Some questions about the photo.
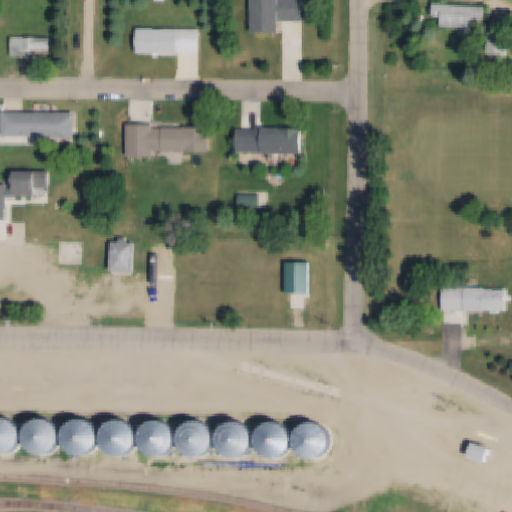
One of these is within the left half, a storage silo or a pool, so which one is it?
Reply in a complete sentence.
There is a storage silo within the left half.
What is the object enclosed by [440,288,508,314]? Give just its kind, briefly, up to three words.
house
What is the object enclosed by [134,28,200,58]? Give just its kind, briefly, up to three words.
house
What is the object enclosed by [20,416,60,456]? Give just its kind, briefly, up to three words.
silo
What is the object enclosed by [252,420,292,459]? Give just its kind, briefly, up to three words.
silo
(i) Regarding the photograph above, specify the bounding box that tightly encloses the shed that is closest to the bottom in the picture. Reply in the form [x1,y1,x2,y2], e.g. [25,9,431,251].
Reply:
[466,444,491,462]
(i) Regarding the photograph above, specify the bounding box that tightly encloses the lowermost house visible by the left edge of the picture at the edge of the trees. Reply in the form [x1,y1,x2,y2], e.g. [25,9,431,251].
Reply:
[0,171,48,220]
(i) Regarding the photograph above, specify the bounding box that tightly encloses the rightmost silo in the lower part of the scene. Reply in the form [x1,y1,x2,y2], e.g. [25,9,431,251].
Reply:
[290,420,331,460]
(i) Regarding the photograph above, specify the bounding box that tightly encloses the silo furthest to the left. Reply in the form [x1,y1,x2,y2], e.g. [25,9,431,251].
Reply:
[0,416,22,454]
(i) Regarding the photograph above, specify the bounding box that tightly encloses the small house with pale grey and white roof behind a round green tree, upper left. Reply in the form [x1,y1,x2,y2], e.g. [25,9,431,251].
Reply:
[8,37,49,56]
